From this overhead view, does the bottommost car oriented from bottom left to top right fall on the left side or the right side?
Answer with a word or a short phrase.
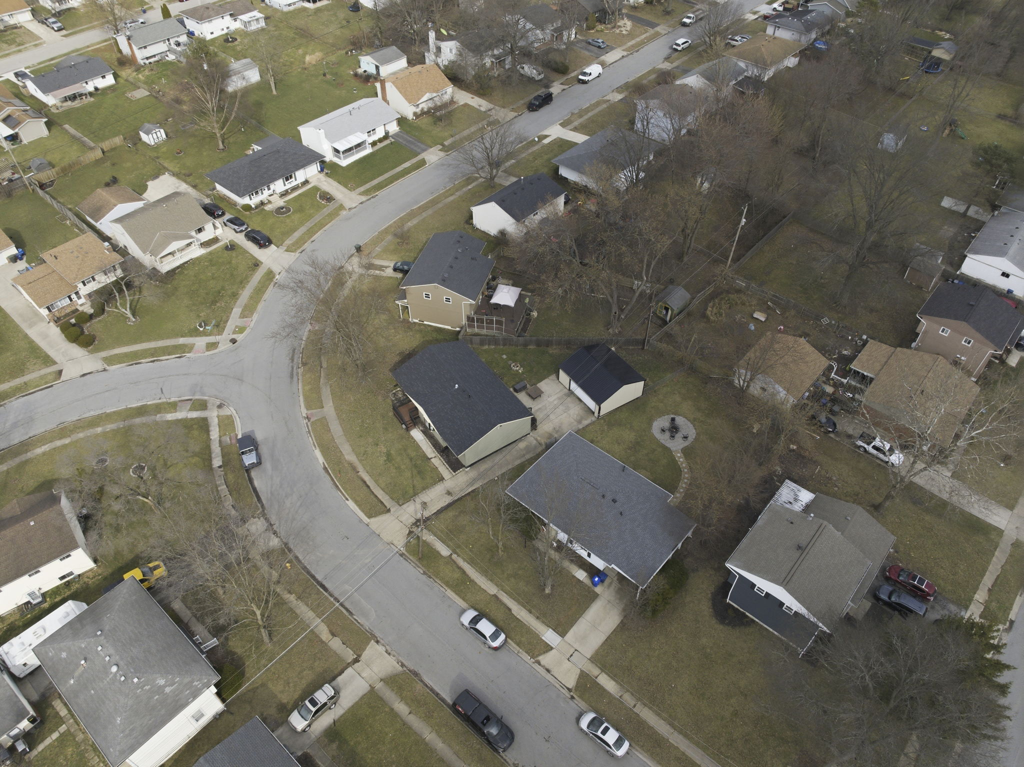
left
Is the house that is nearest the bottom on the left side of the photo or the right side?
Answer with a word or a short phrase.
left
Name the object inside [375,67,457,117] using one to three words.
house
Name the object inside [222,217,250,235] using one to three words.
car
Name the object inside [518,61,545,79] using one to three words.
vehicle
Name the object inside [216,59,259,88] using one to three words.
building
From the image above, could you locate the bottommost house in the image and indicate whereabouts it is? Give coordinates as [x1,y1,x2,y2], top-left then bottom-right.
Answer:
[193,716,300,767]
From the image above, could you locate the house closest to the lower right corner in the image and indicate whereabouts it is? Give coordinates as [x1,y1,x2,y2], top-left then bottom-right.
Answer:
[720,493,896,654]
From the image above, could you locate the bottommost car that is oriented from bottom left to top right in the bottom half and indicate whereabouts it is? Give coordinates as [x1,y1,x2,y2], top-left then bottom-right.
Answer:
[284,682,343,735]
